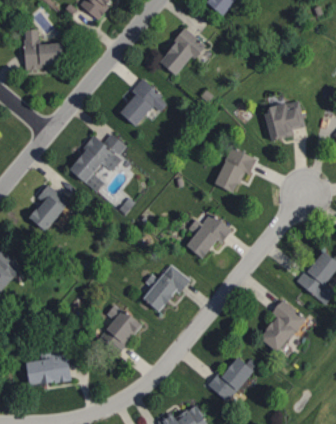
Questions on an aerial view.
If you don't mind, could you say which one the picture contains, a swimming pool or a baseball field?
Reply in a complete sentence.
The one in the frame is a swimming pool.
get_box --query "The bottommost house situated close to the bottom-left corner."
[25,353,72,388]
